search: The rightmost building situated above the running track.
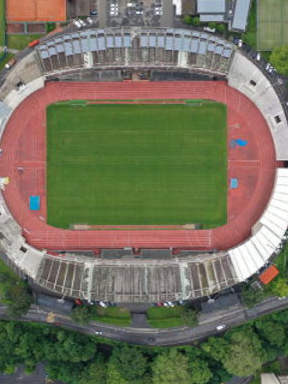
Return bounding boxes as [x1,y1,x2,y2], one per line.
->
[232,0,250,32]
